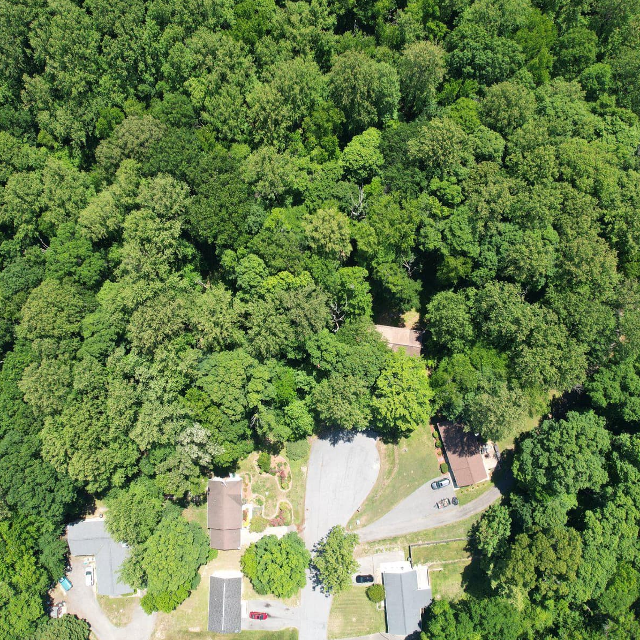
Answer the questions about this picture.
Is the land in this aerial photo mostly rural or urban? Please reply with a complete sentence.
The land in this view is best described as rural.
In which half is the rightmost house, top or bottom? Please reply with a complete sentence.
Seen from above, the rightmost house lies in the bottom half of the view.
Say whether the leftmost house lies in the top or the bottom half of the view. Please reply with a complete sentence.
The leftmost house is in the bottom half of the image.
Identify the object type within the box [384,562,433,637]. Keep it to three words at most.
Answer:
house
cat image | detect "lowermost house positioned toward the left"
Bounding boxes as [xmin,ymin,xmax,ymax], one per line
[208,573,242,636]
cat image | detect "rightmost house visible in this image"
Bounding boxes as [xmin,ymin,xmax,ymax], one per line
[437,418,489,489]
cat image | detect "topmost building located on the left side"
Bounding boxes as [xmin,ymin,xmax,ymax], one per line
[208,478,244,551]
